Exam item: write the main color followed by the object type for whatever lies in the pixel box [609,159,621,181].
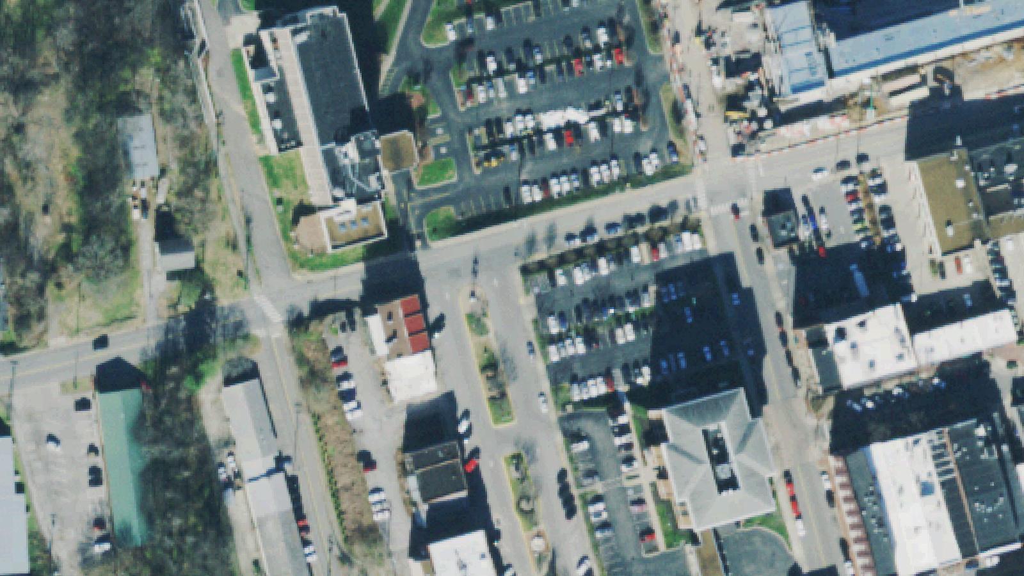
white vehicle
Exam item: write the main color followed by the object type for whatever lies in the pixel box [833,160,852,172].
gray vehicle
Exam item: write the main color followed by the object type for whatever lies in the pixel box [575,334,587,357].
white vehicle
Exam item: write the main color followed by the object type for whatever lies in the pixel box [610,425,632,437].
black vehicle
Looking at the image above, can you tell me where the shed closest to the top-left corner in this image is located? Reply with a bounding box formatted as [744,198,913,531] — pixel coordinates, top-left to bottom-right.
[118,115,158,179]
